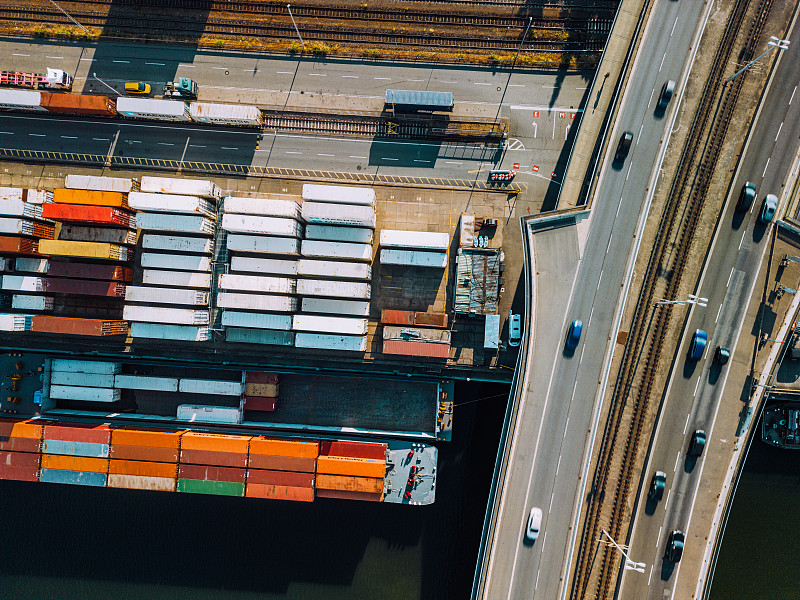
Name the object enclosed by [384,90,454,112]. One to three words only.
trailer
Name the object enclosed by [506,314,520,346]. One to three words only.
vehicle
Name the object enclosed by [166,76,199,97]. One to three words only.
truck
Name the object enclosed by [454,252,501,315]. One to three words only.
shed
